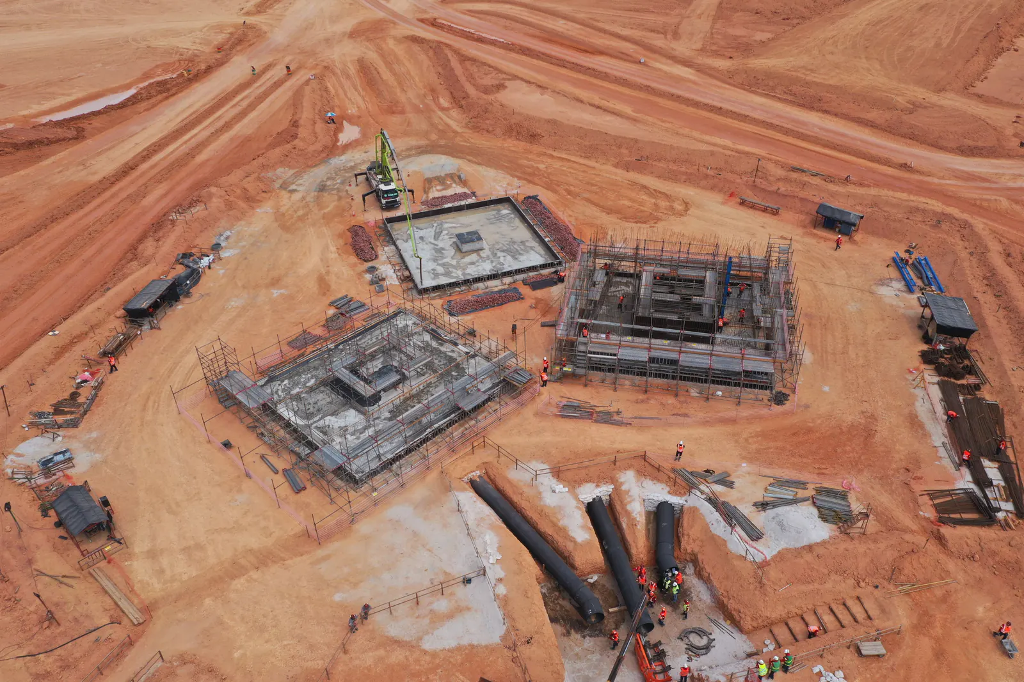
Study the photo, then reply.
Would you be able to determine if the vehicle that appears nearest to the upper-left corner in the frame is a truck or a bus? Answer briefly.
truck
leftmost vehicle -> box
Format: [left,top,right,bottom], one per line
[354,126,426,289]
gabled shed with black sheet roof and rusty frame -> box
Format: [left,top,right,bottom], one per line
[51,486,118,558]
